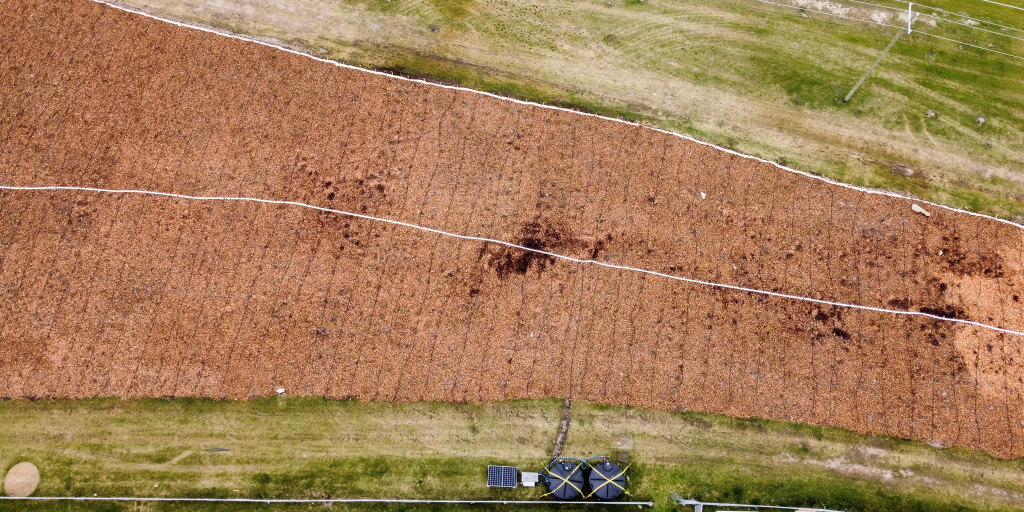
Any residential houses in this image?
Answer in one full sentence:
No, there appears to be no residential house in this shot.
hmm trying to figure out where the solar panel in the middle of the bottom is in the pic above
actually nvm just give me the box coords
[487,465,517,489]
